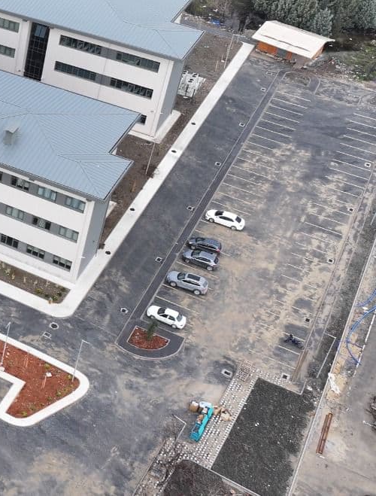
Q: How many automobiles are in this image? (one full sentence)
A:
The number of automobiles here is 5.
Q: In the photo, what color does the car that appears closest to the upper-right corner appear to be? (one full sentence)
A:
The car that appears closest to the upper-right corner is white.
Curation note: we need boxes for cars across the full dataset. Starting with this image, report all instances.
[180,249,219,272]
[143,304,189,331]
[204,210,246,232]
[166,272,209,297]
[182,234,226,257]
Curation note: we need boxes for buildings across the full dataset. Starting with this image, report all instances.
[0,0,206,282]
[251,22,331,69]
